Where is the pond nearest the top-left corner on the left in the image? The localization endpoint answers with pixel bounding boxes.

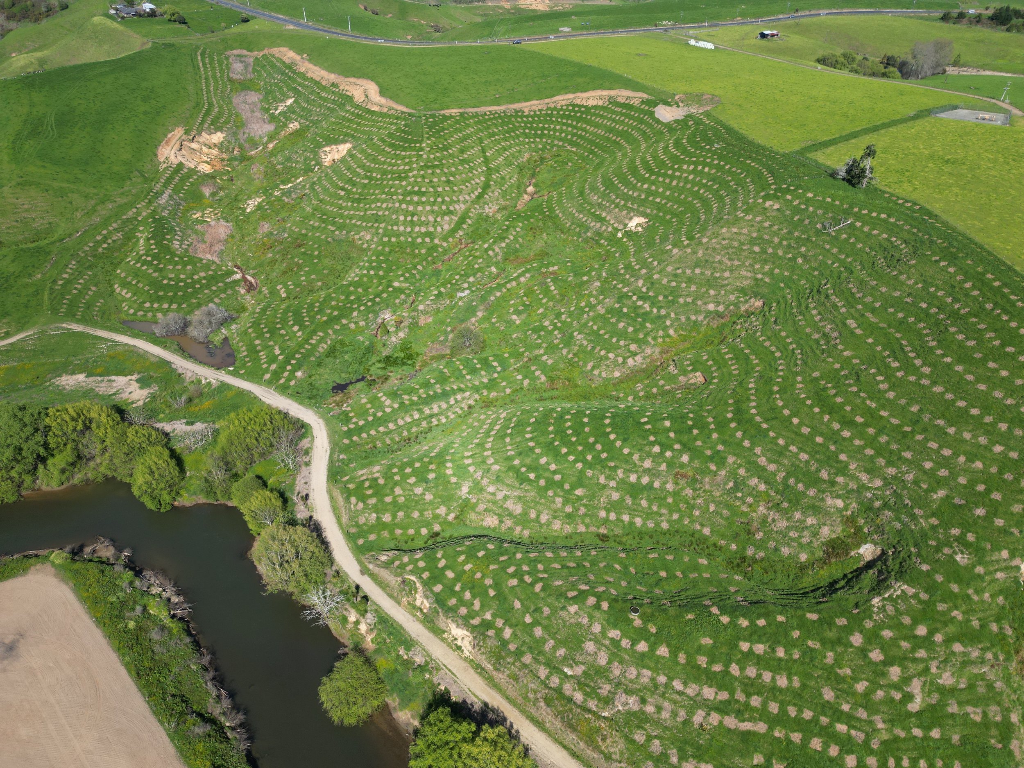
[123,319,236,369]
